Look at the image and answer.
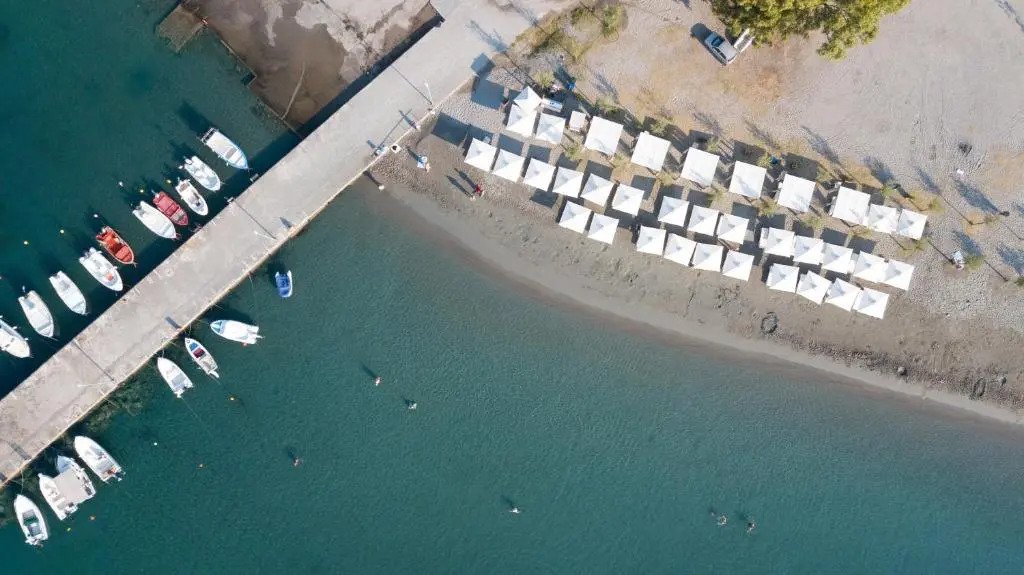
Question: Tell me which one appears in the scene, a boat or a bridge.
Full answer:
The one in the frame is a boat.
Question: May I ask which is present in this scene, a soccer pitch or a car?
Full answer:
The image shows a car.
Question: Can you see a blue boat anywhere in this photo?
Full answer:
Yes, there's a blue boat down there.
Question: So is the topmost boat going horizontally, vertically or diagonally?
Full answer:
The topmost boat has been laid out diagonally relative to the frame.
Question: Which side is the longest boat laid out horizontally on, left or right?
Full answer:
You can find the longest boat laid out horizontally on the left side of the picture.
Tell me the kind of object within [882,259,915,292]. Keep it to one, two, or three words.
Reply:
umbrella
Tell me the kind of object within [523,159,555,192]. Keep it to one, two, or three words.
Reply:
umbrella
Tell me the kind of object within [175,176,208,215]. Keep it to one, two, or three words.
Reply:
boat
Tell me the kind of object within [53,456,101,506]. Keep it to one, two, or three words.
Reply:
boat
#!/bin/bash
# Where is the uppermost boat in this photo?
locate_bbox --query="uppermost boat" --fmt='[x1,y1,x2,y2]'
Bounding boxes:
[194,124,248,169]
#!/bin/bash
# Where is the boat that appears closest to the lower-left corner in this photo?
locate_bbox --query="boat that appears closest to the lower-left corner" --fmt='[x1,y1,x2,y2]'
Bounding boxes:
[13,497,47,550]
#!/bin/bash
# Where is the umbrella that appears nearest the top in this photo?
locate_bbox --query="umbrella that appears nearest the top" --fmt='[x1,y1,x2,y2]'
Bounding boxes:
[512,85,542,111]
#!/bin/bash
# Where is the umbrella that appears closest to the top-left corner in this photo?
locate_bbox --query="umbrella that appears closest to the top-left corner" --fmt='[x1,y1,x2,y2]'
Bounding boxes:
[464,138,498,172]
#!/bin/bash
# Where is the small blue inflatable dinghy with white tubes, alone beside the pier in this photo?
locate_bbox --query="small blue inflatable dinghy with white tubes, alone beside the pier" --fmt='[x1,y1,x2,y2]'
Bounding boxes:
[275,270,293,297]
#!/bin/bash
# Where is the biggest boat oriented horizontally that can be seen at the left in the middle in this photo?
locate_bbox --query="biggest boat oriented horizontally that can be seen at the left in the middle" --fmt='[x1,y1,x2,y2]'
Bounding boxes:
[209,319,263,345]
